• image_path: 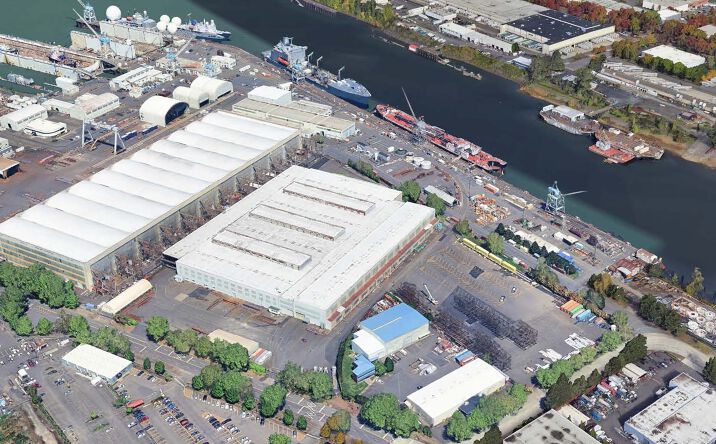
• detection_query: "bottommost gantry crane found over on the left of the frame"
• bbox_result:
[76,117,126,155]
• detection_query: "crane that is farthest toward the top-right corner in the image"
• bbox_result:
[544,175,590,220]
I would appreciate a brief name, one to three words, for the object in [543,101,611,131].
ship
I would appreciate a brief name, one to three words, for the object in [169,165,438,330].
building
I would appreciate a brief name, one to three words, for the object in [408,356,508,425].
building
